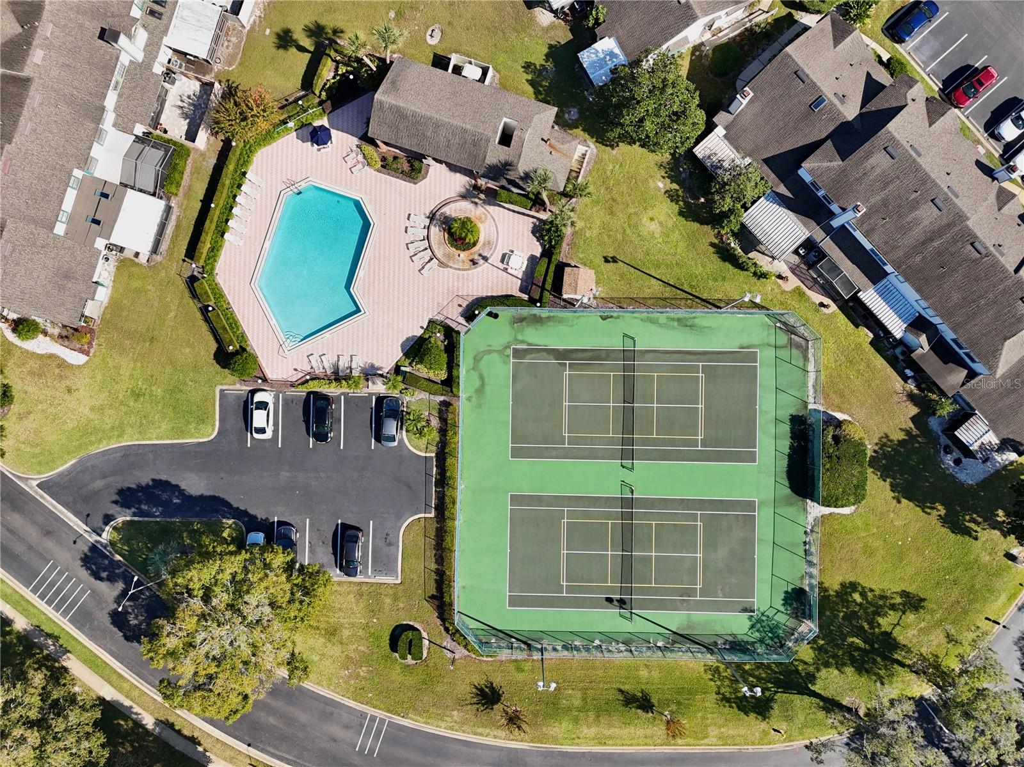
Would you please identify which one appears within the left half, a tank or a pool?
pool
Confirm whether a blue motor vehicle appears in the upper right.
Yes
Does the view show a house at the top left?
Yes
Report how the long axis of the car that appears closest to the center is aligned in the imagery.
from top to bottom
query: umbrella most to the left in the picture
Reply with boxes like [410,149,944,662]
[307,122,332,147]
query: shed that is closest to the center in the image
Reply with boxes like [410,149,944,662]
[562,267,596,298]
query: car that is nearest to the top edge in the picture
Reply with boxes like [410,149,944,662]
[893,0,940,43]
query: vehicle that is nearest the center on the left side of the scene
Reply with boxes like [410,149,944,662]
[379,395,402,447]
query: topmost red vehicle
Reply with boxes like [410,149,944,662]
[949,64,1000,109]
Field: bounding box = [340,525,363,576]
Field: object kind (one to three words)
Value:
car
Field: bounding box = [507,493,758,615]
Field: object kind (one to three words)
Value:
tennis court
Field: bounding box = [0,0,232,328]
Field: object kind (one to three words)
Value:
house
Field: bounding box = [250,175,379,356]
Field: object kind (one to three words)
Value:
swimming pool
